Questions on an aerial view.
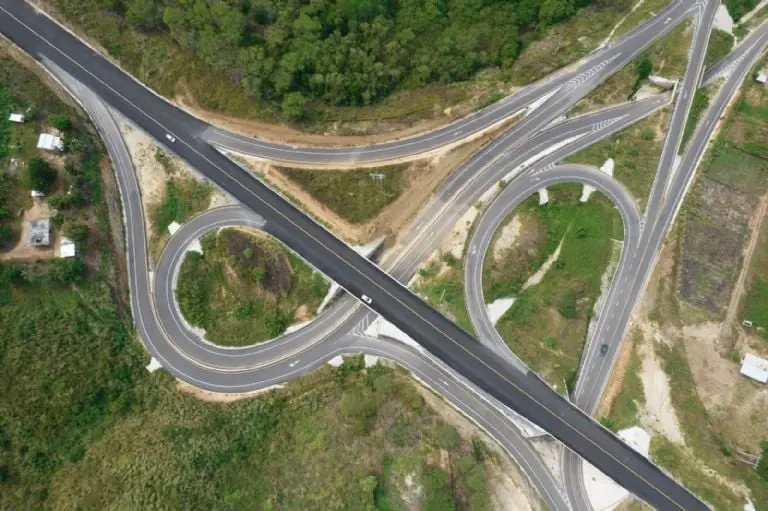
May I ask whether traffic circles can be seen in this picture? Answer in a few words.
No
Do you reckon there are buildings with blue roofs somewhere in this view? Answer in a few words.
No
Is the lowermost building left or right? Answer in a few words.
right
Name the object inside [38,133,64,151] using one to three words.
house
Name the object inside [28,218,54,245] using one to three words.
house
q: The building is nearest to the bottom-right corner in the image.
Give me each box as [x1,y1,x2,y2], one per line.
[735,351,768,385]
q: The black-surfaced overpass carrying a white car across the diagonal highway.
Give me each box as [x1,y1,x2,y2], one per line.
[328,246,428,334]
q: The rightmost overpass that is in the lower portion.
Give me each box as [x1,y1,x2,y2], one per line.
[533,393,623,470]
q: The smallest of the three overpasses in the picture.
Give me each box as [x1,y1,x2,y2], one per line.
[672,64,706,101]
